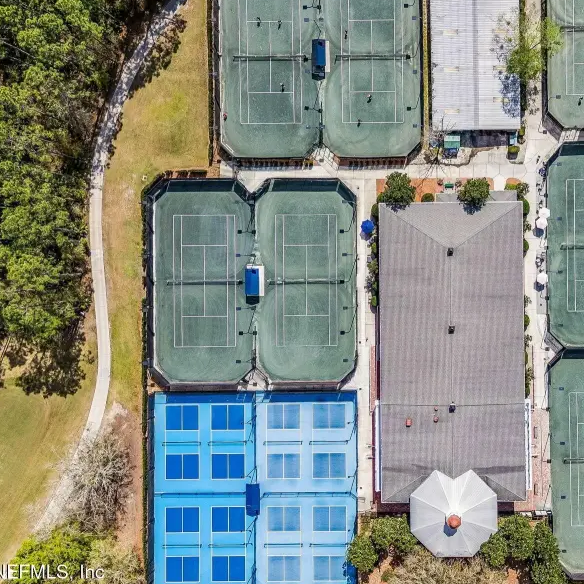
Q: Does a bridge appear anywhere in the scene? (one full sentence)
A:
No, the scene contains no bridge.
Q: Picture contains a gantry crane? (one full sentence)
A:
No, no gantry crane can be seen from above.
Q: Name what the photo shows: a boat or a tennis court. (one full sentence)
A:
This aerial view contains a tennis court.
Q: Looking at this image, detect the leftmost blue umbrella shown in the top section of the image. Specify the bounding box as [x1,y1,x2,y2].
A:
[361,220,375,234]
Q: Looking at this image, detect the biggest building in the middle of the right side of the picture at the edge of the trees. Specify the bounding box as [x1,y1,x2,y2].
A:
[378,191,527,503]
